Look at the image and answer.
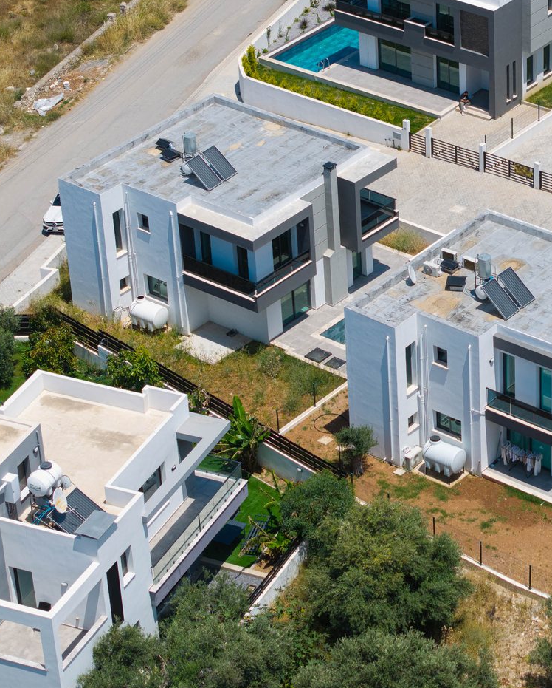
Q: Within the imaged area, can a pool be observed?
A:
Yes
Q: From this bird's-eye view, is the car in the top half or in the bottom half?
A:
top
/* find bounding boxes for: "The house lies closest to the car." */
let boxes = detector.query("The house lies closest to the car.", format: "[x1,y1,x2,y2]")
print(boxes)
[58,94,399,344]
